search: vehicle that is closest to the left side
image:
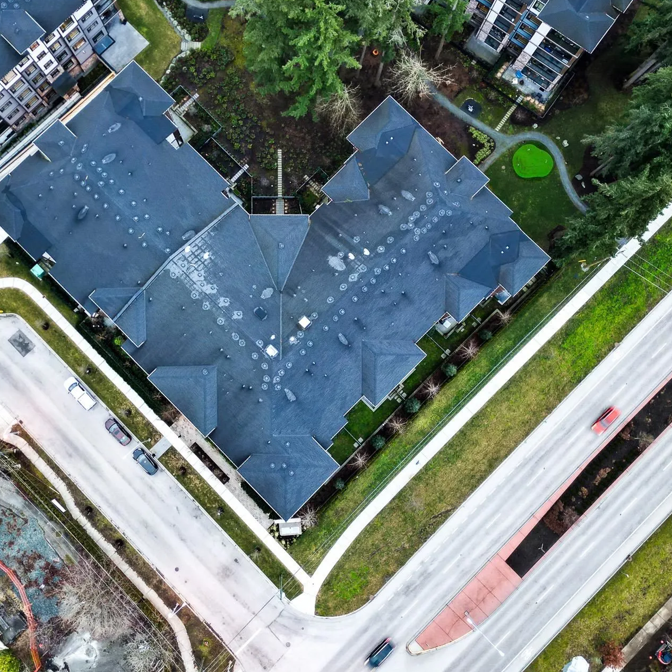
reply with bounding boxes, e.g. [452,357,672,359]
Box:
[59,374,100,412]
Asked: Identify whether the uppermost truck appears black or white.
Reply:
white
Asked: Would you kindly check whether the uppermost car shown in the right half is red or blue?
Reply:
red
